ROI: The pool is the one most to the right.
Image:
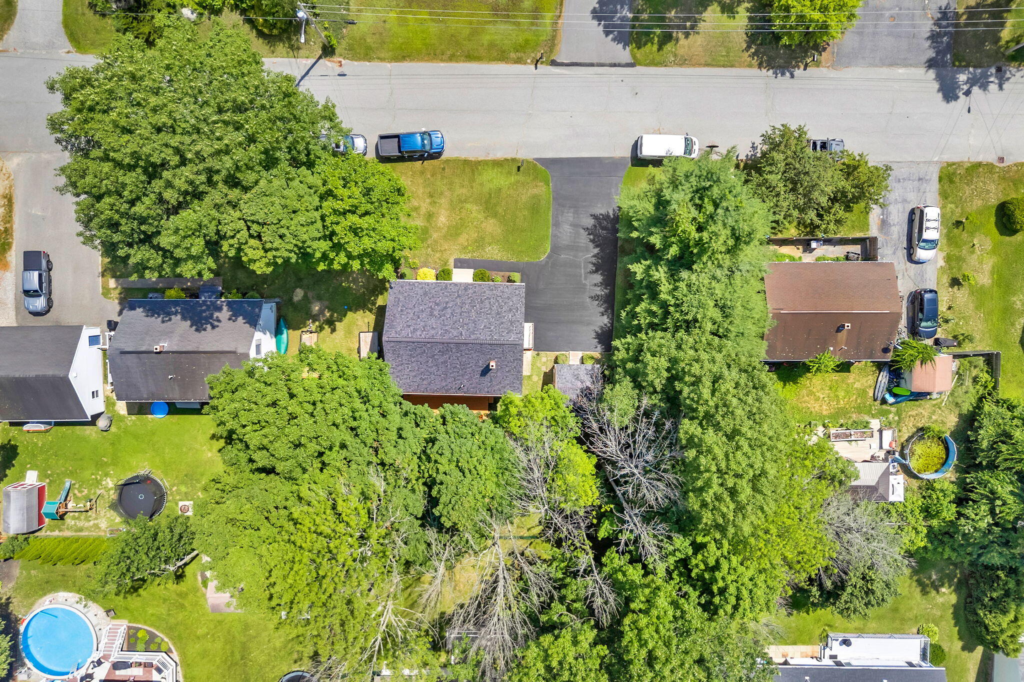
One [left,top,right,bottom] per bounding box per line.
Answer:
[900,430,957,480]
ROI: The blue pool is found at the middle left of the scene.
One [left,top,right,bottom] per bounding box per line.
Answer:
[149,402,168,419]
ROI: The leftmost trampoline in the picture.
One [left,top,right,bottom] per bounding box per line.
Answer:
[102,468,166,523]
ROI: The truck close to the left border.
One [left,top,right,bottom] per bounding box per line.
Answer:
[16,250,51,313]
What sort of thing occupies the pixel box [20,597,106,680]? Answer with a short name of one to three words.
swimming pool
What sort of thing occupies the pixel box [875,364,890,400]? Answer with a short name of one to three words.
boat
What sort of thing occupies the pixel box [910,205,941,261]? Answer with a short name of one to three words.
car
